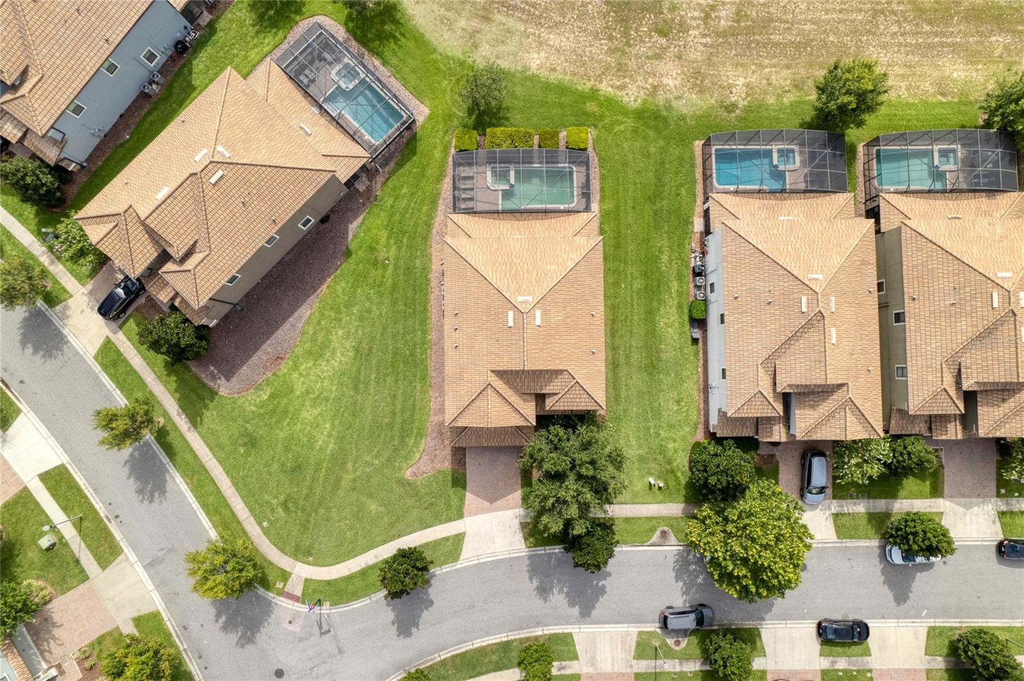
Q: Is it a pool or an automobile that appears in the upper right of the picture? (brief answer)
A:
pool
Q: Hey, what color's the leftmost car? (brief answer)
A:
black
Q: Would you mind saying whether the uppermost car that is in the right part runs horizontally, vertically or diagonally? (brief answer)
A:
vertically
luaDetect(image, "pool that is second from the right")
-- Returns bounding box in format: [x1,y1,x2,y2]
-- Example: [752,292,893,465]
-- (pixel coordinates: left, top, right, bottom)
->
[713,144,800,192]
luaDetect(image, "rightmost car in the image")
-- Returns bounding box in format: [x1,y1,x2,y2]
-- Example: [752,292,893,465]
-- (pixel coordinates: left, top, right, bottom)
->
[1002,538,1024,561]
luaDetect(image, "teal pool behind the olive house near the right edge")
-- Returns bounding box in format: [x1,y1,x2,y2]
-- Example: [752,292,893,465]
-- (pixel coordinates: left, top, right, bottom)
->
[878,142,959,190]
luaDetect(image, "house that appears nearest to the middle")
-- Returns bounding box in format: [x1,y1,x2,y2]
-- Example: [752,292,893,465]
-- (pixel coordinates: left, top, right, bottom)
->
[443,212,605,447]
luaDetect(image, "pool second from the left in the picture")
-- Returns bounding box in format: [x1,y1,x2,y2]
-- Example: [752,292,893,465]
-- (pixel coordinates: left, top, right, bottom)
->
[490,160,577,213]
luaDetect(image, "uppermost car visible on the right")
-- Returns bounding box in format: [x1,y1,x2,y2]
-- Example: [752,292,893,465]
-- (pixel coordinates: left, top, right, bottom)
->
[801,449,831,505]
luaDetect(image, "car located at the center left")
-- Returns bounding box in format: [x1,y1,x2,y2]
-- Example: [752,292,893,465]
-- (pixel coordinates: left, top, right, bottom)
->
[92,275,145,323]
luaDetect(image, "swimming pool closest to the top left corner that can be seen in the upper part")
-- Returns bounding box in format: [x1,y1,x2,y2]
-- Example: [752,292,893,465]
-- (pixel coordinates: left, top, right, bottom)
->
[319,57,404,143]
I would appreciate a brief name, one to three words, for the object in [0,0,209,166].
house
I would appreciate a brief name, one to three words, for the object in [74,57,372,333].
house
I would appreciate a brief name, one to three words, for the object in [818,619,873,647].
car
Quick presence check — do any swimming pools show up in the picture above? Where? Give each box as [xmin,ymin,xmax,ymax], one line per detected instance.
[878,142,959,190]
[319,57,404,143]
[713,144,800,192]
[490,160,577,213]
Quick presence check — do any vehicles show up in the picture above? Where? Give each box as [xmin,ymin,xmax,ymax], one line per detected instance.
[801,449,831,505]
[1002,538,1024,561]
[887,542,944,567]
[818,619,873,647]
[92,275,145,323]
[660,606,716,635]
